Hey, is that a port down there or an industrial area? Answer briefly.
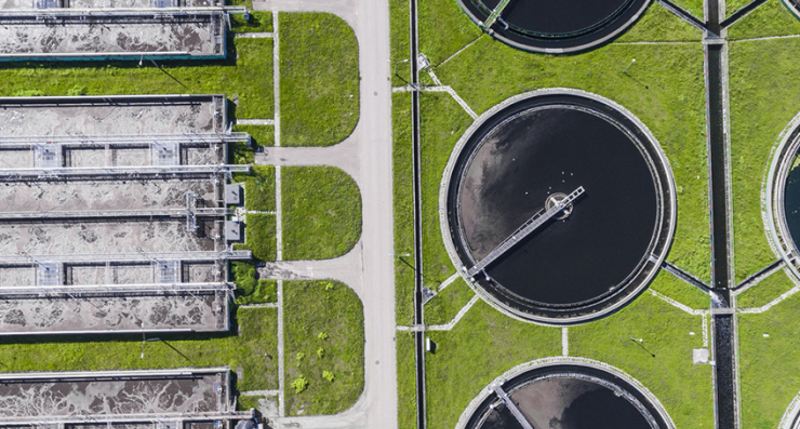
industrial area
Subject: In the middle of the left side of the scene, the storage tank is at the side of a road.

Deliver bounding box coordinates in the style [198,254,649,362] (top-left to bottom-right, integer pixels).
[0,95,254,335]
